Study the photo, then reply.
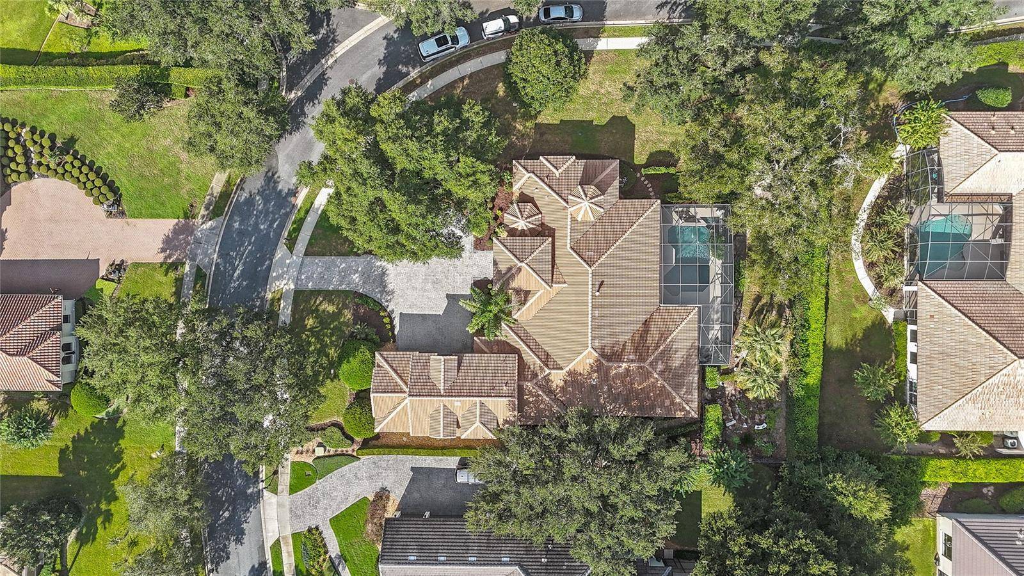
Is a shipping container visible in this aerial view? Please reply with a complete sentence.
No, there isn't any shipping container down there.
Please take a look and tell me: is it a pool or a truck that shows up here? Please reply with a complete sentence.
This aerial view contains a pool.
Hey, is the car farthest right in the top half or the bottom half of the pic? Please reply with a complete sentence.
You can find the car farthest right in the top half.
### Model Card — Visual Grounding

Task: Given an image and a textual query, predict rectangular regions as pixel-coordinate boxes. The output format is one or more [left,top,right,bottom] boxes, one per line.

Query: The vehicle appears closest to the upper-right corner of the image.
[538,2,583,25]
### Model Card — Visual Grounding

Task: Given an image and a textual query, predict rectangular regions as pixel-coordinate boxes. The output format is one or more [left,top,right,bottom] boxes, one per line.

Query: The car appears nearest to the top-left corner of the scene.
[417,29,471,61]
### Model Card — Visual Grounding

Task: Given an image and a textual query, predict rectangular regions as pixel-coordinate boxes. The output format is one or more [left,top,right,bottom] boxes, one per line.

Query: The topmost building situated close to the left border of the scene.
[0,294,79,392]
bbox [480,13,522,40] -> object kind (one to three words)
car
